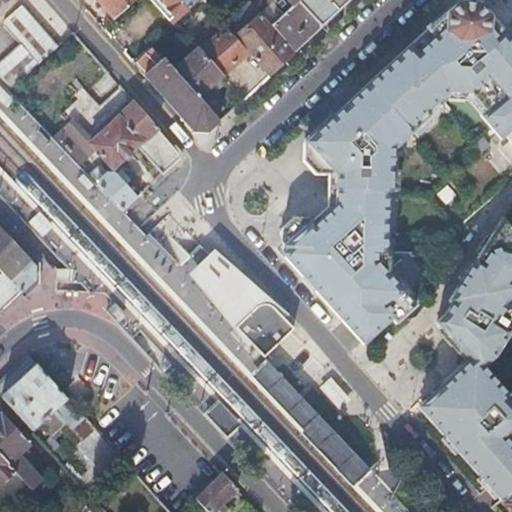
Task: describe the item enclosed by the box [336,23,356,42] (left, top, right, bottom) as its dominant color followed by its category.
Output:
white car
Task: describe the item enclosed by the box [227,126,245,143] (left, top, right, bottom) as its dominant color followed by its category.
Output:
gray car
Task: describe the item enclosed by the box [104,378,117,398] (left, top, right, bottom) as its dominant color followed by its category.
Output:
white vehicle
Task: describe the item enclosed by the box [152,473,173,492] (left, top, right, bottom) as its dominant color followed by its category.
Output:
white vehicle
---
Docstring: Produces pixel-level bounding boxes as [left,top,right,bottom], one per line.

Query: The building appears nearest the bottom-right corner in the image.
[416,362,512,500]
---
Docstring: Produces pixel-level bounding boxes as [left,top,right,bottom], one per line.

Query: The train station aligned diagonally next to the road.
[0,84,420,512]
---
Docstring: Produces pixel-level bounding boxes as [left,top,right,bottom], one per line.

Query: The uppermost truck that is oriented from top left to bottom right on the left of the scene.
[166,118,194,150]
